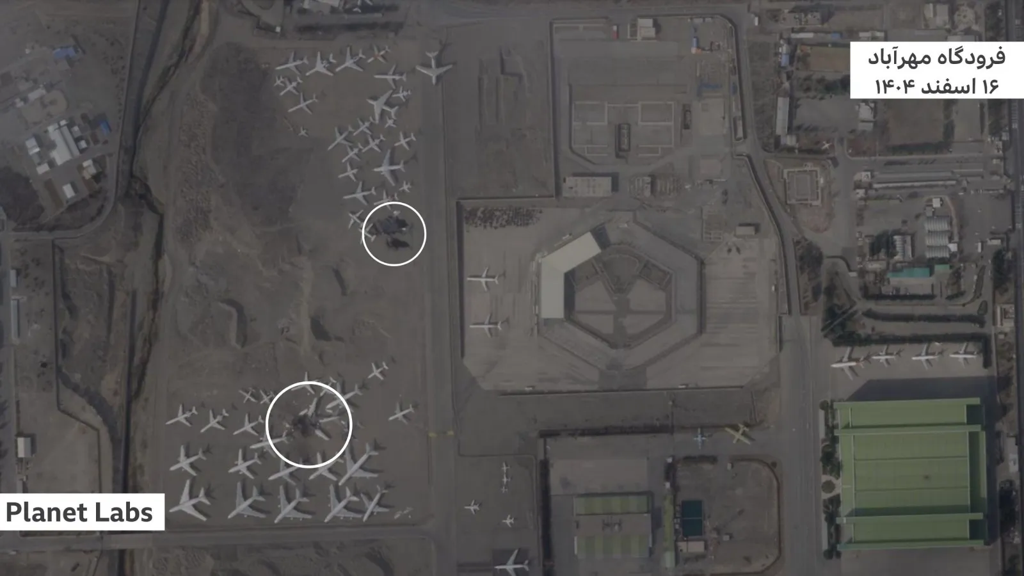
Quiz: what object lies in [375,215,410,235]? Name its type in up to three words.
airplane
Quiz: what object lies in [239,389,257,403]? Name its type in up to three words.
airplane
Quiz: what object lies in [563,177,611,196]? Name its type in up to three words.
building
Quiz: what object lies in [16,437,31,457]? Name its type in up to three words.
house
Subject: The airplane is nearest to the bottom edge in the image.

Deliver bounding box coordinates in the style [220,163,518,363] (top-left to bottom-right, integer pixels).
[494,549,529,576]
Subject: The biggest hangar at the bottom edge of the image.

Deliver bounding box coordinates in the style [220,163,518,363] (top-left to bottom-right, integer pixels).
[835,398,989,550]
